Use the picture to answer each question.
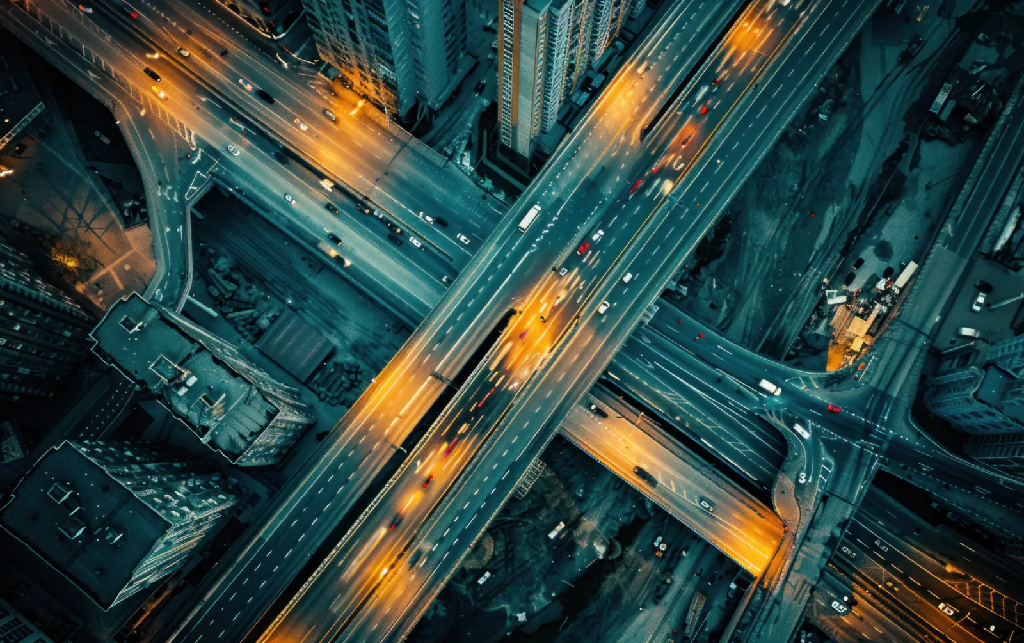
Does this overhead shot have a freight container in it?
Yes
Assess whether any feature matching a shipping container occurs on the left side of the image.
No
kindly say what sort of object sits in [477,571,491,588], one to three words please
vehicle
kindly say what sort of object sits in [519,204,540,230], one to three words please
bus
